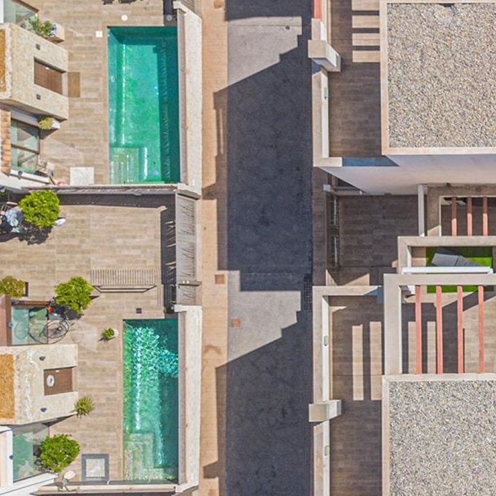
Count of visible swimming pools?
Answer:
2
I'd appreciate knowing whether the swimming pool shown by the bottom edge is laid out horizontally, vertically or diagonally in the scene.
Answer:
vertically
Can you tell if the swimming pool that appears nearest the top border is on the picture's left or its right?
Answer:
left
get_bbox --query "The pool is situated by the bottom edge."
[120,316,177,478]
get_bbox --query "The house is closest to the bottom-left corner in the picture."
[0,299,77,487]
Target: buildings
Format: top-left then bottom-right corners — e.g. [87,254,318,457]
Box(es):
[307,238,496,496]
[0,299,77,487]
[307,0,496,191]
[0,0,68,176]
